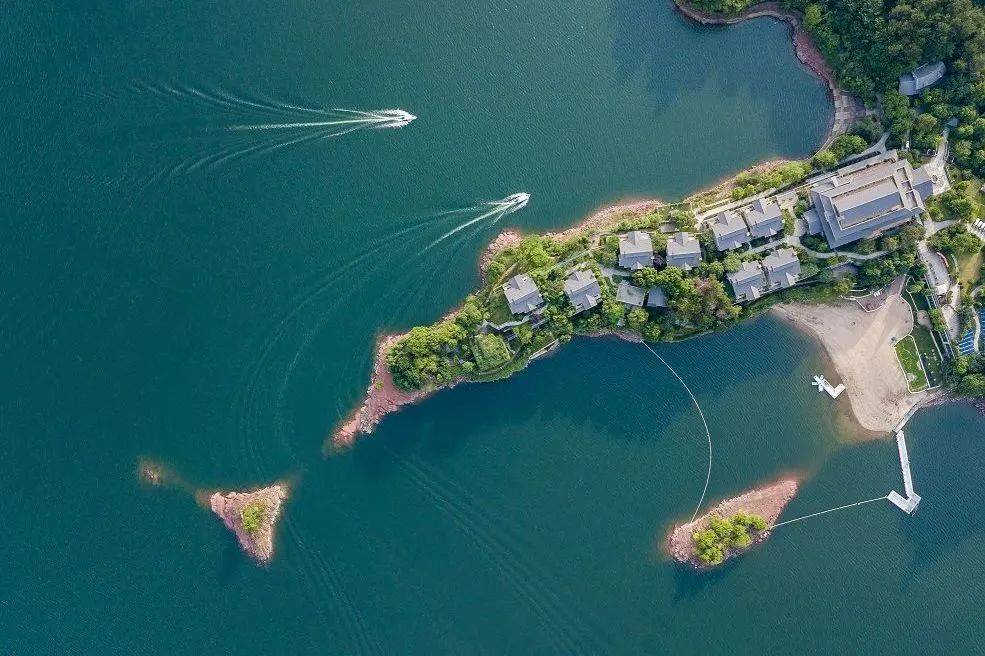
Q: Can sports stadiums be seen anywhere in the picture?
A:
No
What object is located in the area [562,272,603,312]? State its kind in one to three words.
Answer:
house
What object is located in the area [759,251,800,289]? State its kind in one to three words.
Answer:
house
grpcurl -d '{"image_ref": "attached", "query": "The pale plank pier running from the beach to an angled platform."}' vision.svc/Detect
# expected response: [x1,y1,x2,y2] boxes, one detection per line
[888,430,921,513]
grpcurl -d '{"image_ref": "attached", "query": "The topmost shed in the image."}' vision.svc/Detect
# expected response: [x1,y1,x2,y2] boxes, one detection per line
[892,64,945,95]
